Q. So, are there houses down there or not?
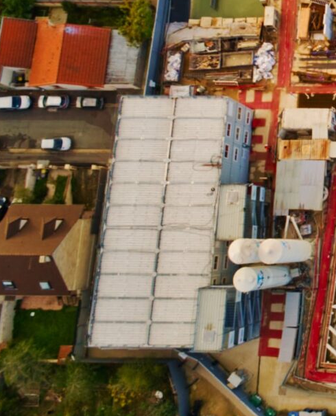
Yes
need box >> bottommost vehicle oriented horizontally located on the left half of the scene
[37,136,70,151]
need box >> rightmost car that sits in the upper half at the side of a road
[72,94,103,109]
